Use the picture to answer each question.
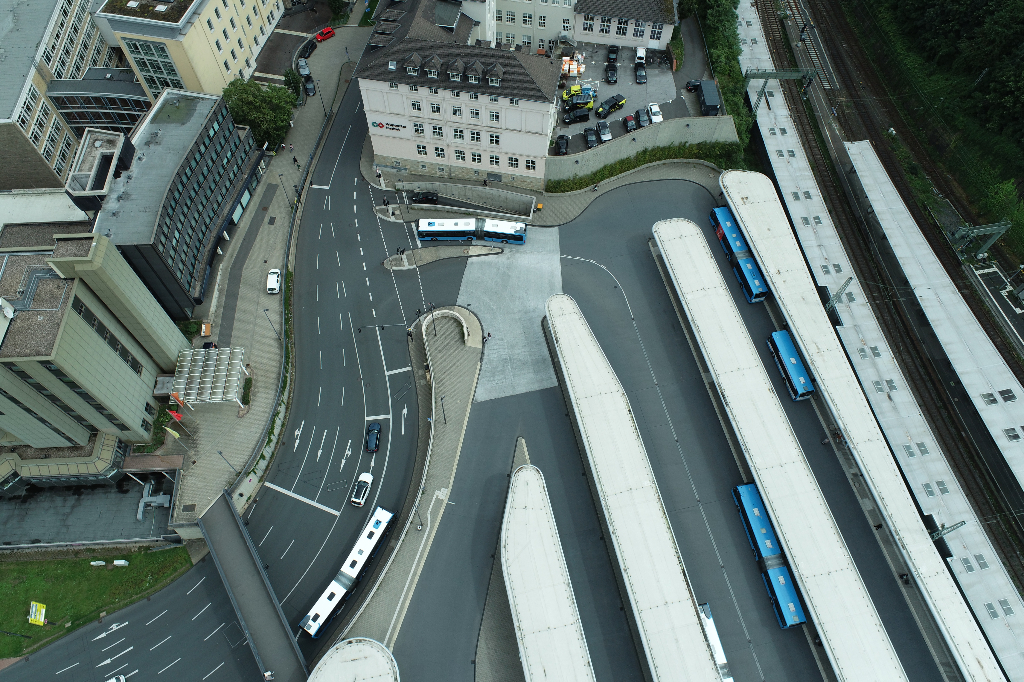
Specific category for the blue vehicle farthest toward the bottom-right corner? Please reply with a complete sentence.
Looking closely, the blue vehicle farthest toward the bottom-right corner is a bus.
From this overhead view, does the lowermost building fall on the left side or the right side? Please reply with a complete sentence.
The lowermost building appears in the left half of the scene.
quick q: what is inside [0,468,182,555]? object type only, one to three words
building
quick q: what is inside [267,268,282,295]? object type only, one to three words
vehicle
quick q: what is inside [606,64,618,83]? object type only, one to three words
vehicle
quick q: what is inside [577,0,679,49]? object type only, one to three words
building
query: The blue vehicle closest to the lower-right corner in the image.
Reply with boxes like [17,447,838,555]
[730,481,801,625]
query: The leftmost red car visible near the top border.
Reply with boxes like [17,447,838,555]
[315,25,336,41]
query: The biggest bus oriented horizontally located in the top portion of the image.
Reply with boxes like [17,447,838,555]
[416,220,525,245]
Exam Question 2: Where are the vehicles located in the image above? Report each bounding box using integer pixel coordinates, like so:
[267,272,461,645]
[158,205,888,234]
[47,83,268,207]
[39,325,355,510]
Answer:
[709,209,763,304]
[267,268,282,295]
[583,127,598,149]
[566,92,593,111]
[730,481,801,625]
[300,505,395,642]
[416,220,525,245]
[647,103,662,123]
[635,64,647,83]
[302,76,316,96]
[563,108,590,125]
[622,114,636,133]
[298,39,318,57]
[634,46,647,65]
[606,64,618,83]
[349,473,372,507]
[683,77,705,92]
[635,108,649,128]
[598,96,625,116]
[564,82,593,100]
[366,422,381,454]
[196,337,225,352]
[315,25,336,41]
[702,76,722,118]
[412,191,439,202]
[764,328,811,406]
[596,121,612,143]
[297,58,311,76]
[608,47,619,63]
